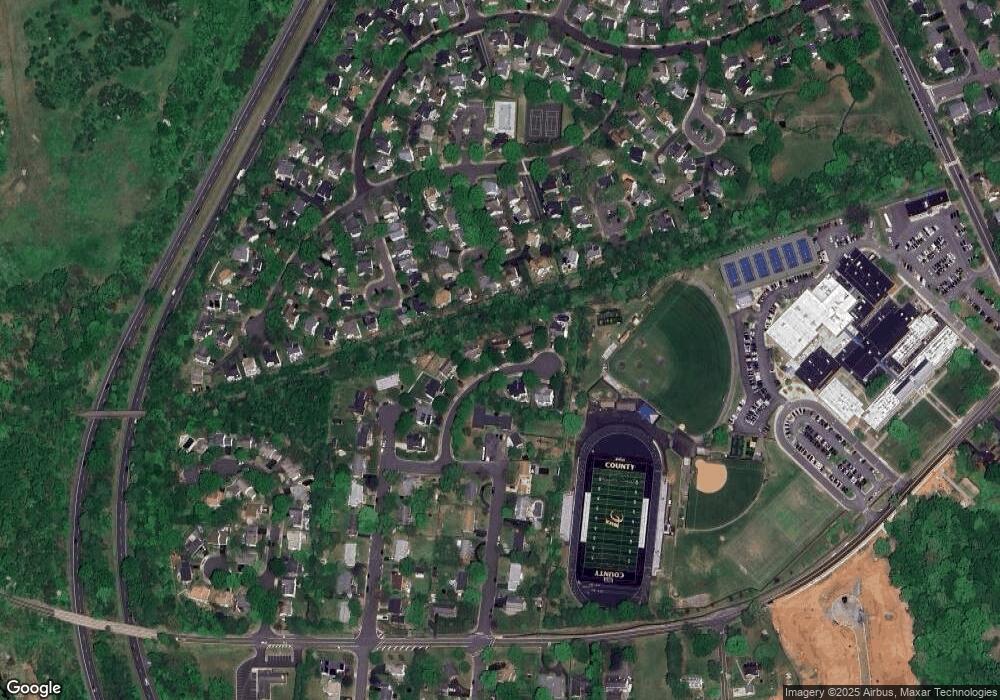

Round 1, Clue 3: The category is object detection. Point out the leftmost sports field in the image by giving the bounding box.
[580,455,649,585]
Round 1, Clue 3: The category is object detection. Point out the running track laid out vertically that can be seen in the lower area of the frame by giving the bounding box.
[568,424,662,607]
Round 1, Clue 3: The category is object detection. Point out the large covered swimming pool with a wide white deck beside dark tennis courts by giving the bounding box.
[494,103,516,137]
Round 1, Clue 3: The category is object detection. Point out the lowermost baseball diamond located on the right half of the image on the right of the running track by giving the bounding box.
[687,458,767,530]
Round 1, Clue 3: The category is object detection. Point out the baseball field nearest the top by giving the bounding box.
[604,281,732,434]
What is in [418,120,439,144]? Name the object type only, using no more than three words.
house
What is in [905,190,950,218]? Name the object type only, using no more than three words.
building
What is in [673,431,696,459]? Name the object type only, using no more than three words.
building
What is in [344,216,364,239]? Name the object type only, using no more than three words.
house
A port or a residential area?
residential area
